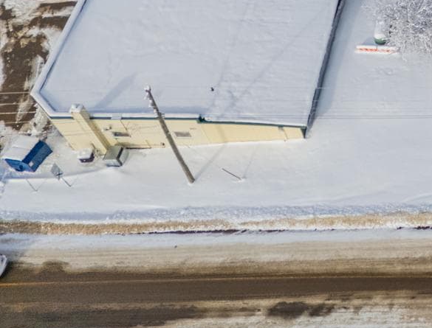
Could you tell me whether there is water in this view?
No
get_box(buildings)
[28,0,342,153]
[0,128,58,180]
